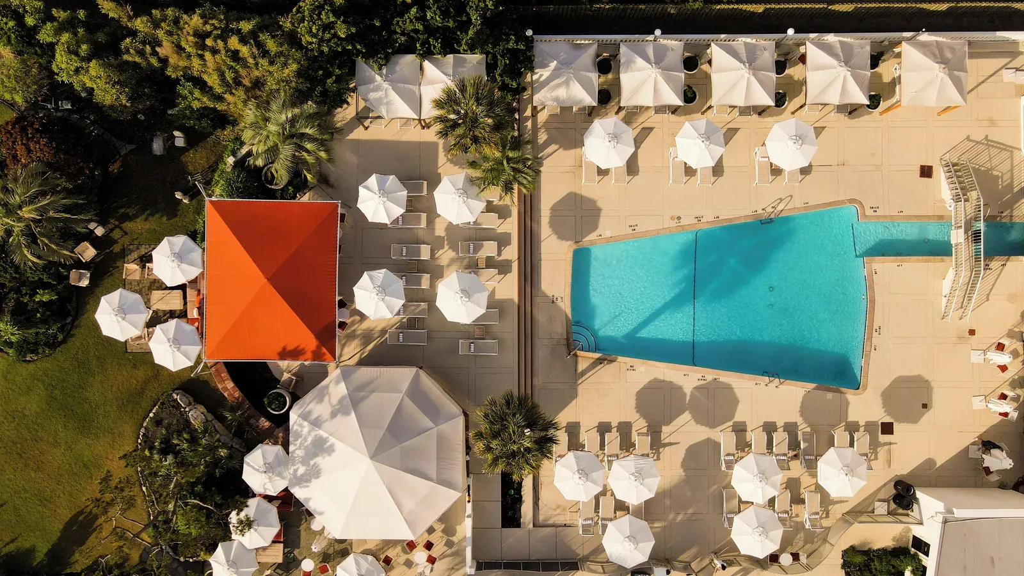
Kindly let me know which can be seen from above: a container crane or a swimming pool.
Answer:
swimming pool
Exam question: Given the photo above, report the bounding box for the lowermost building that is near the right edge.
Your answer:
[900,489,1024,576]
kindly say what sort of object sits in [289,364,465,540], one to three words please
tent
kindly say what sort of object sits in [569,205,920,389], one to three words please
swimming pool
